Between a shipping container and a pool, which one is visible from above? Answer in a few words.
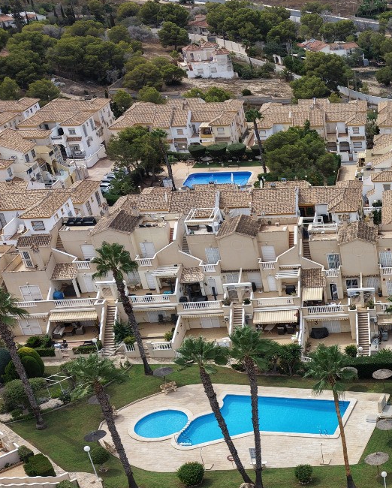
pool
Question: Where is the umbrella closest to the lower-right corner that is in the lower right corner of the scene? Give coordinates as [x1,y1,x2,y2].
[360,452,390,475]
